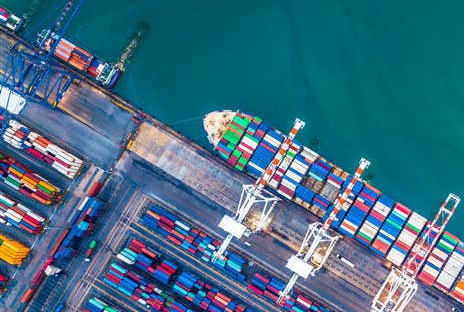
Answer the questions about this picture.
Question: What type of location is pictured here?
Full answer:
What you see here is a port.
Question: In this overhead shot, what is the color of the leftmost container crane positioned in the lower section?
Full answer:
The leftmost container crane positioned in the lower section looks white in the image.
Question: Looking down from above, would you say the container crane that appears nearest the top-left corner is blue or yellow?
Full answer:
From above, the container crane that appears nearest the top-left corner appears blue.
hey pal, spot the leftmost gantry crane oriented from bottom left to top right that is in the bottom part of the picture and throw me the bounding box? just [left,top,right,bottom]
[212,120,304,263]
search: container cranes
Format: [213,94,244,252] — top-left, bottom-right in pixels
[212,120,304,263]
[367,191,462,312]
[277,159,369,301]
[0,0,87,134]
